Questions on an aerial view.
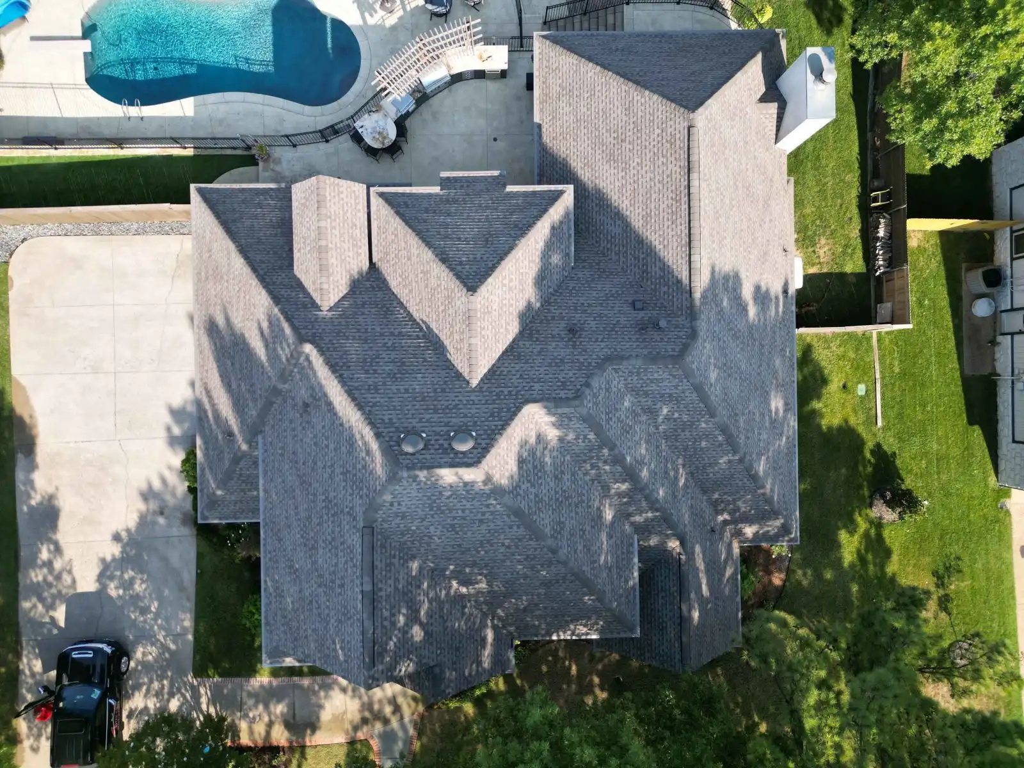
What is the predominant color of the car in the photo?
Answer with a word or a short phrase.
black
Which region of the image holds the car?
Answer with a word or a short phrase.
bottom left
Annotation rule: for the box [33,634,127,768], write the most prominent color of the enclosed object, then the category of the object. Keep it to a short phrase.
black car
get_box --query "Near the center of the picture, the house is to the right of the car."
[189,27,835,710]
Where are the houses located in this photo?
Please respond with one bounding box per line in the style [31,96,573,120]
[189,27,835,710]
[988,139,1024,505]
